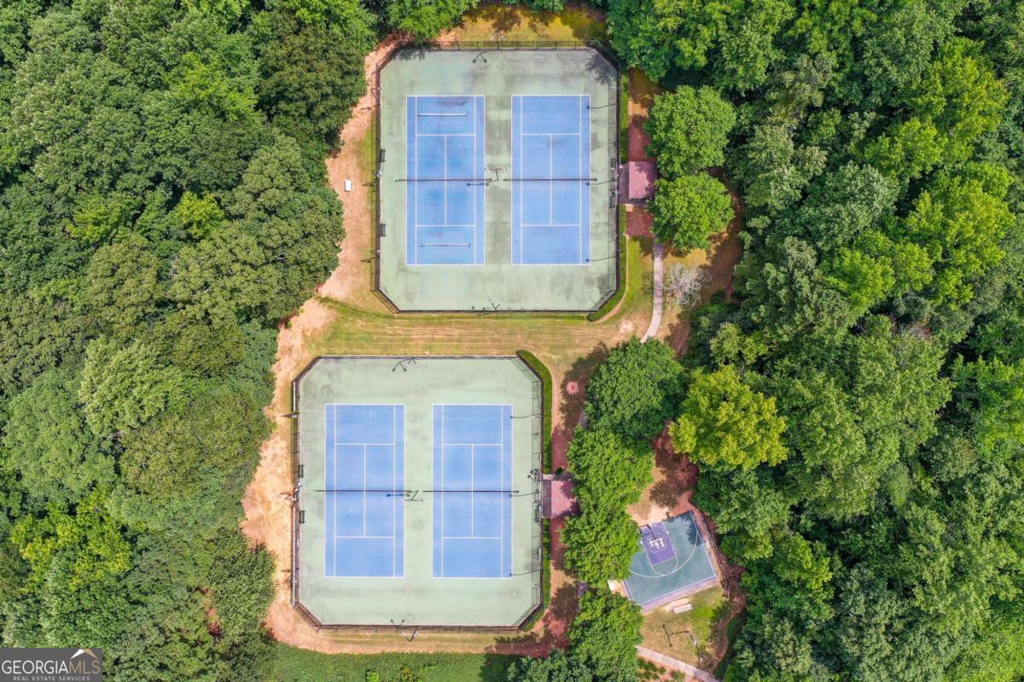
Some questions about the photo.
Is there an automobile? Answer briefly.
No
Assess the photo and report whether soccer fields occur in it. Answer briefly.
No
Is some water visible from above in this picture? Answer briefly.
No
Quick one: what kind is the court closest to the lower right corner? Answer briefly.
basketball court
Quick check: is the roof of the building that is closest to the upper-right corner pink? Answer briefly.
Yes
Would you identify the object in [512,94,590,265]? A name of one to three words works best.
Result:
tennis court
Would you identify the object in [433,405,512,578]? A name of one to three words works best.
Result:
tennis court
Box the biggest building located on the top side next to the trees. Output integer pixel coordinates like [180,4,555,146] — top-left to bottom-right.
[627,161,658,200]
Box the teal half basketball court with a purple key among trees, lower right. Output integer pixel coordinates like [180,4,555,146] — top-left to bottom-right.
[609,507,721,612]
